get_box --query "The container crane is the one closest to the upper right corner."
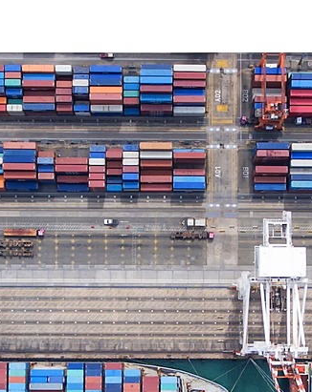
[249,55,288,136]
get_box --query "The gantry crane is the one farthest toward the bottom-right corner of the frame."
[226,208,309,392]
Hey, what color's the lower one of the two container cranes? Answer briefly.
white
